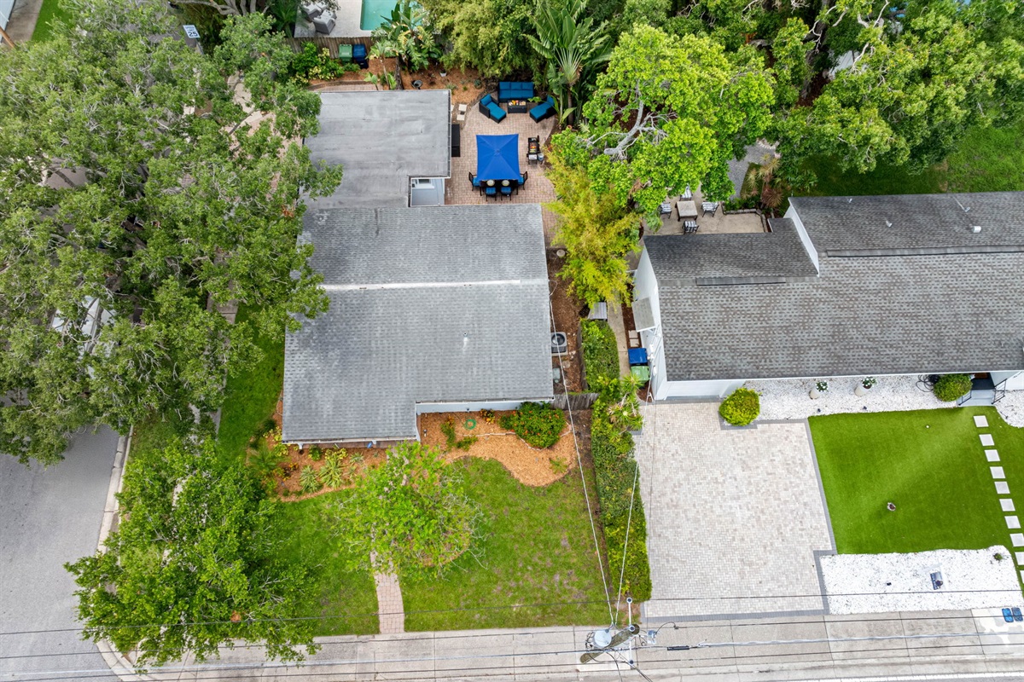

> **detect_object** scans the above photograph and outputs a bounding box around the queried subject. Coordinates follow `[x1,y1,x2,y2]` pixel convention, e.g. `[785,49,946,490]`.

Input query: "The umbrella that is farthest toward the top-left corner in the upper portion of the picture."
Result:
[476,134,520,181]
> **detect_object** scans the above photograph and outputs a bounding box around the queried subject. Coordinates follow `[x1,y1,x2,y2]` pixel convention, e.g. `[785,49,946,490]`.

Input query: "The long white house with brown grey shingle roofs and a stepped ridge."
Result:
[632,191,1024,403]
